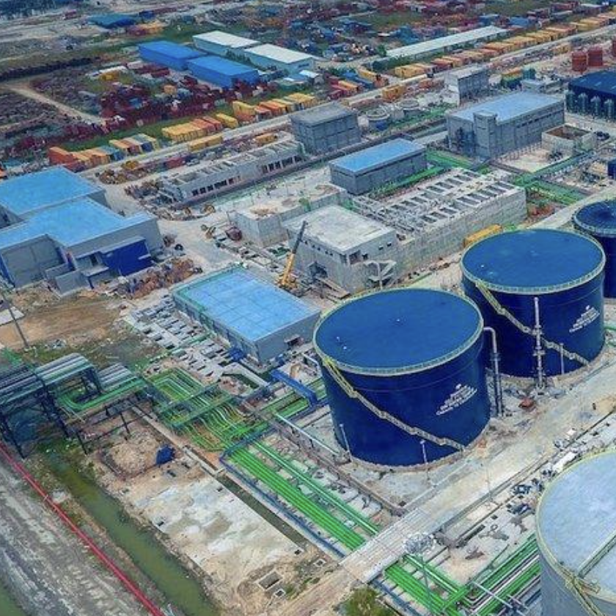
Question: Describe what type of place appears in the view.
industrial area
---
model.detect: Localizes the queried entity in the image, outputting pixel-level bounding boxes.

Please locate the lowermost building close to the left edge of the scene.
[0,202,165,290]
